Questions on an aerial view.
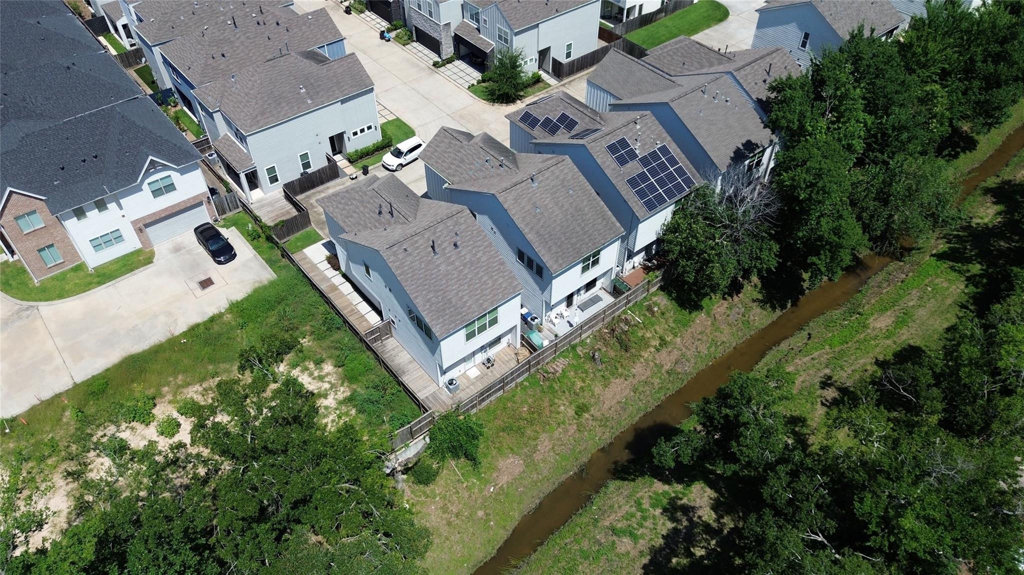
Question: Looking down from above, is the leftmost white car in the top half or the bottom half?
top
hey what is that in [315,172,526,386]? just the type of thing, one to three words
house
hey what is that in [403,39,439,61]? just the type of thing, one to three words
house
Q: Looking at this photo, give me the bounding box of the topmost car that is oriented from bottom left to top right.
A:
[381,134,429,171]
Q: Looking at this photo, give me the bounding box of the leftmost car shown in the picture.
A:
[191,221,235,265]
